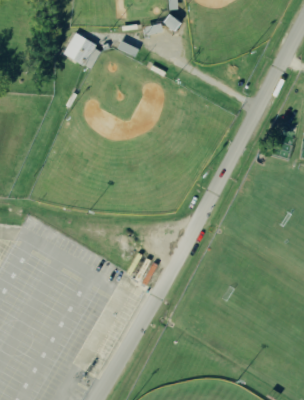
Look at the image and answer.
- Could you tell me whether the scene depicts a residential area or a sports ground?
sports ground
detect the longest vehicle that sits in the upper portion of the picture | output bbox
[271,78,284,98]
